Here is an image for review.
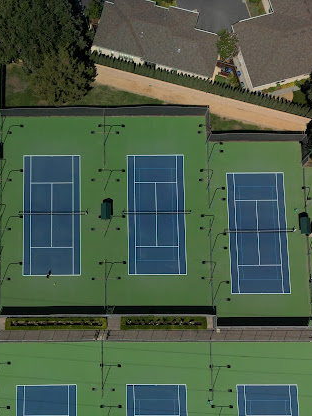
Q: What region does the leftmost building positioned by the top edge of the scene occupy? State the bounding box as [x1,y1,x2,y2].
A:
[92,0,217,84]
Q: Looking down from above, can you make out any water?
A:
No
